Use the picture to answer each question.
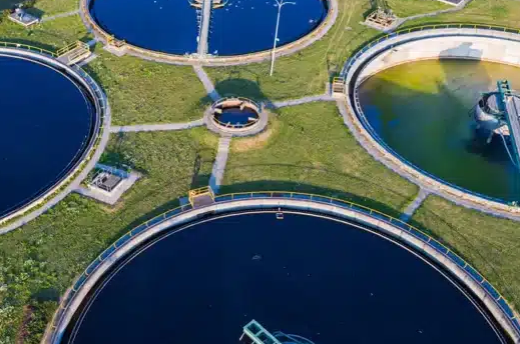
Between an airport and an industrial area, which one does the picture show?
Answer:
industrial area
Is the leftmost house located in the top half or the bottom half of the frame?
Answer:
top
